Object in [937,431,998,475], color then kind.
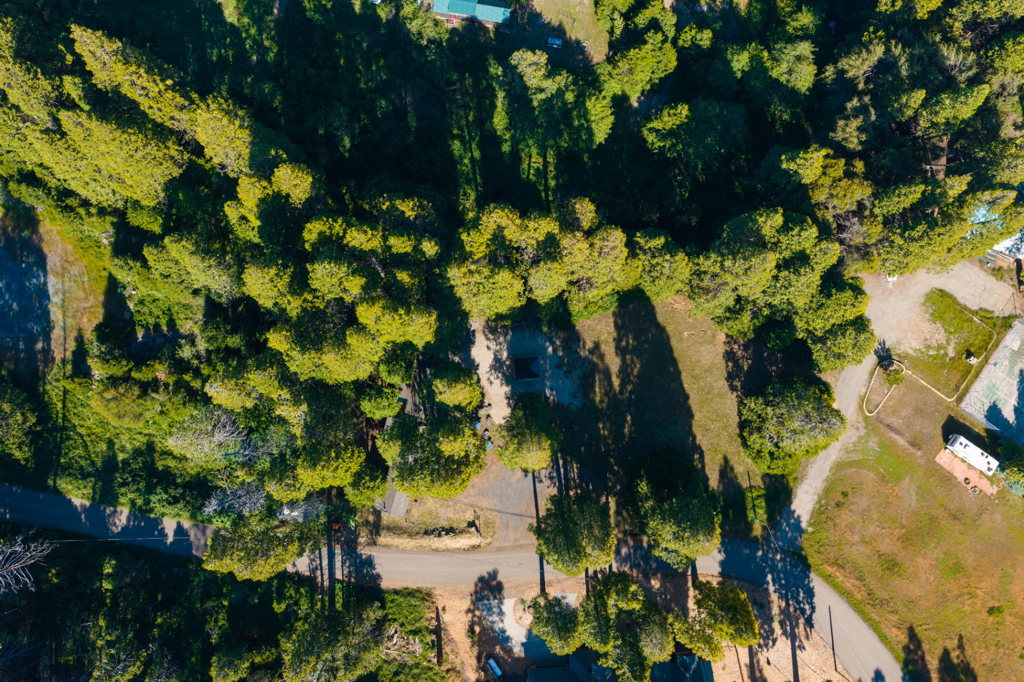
white trailer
